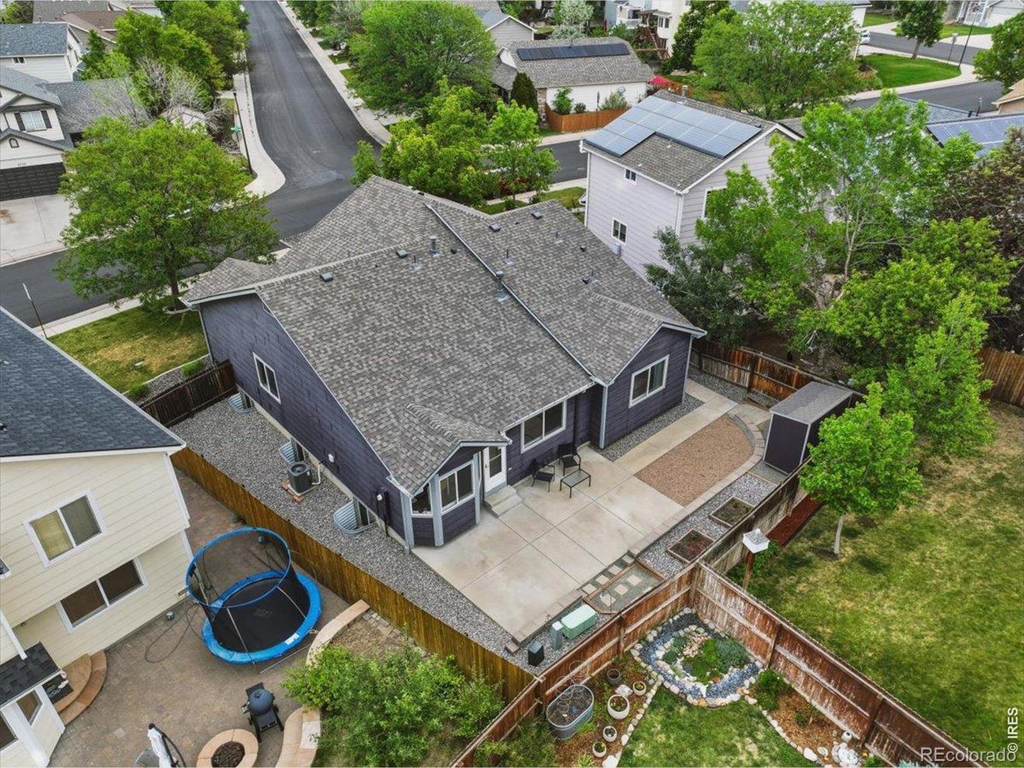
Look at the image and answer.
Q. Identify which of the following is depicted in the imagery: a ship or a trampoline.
trampoline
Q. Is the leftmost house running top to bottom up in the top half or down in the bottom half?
bottom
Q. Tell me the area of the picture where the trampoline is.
bottom left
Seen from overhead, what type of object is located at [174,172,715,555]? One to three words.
house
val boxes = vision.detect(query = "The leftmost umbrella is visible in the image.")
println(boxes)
[147,722,186,768]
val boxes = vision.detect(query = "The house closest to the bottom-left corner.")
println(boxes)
[0,288,201,768]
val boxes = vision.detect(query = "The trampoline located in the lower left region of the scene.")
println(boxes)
[185,529,325,676]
